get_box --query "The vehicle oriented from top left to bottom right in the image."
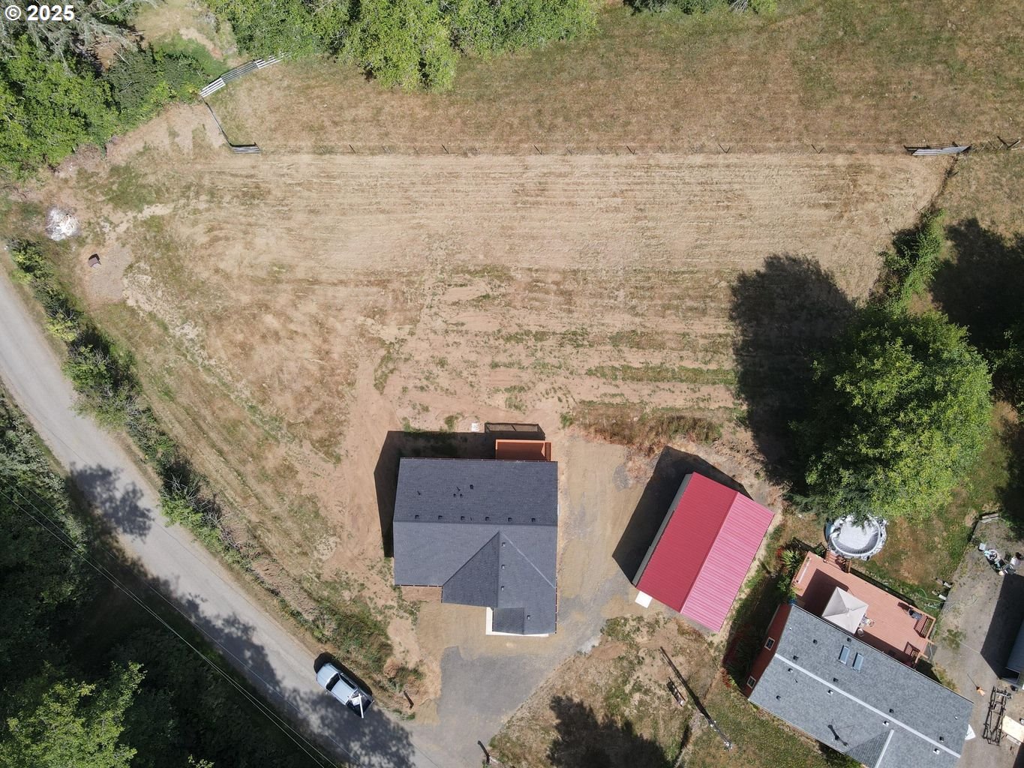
[319,662,376,718]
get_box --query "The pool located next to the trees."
[821,501,888,572]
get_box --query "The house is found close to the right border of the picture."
[738,600,975,768]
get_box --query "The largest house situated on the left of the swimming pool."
[394,457,557,638]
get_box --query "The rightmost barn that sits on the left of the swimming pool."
[630,470,777,629]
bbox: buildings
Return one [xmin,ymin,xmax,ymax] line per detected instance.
[738,600,975,768]
[630,470,777,629]
[394,457,557,638]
